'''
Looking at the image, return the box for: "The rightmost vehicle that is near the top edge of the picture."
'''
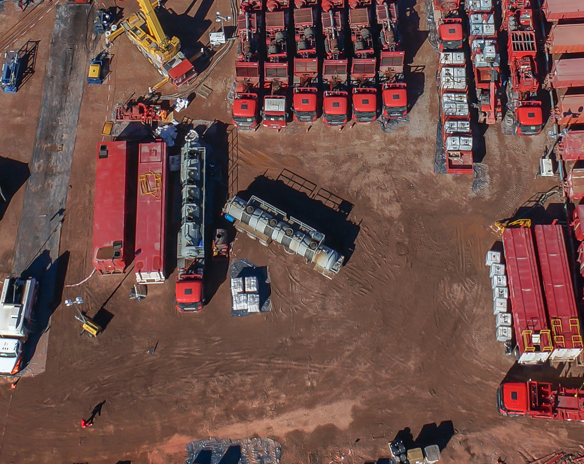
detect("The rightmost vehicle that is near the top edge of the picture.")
[505,0,550,137]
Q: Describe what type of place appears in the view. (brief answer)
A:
industrial area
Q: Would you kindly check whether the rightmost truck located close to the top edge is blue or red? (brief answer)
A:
red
